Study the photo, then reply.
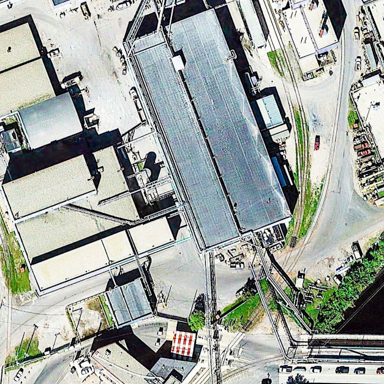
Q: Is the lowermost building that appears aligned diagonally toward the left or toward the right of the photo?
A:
left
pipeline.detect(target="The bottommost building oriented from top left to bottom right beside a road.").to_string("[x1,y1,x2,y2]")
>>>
[92,343,156,384]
